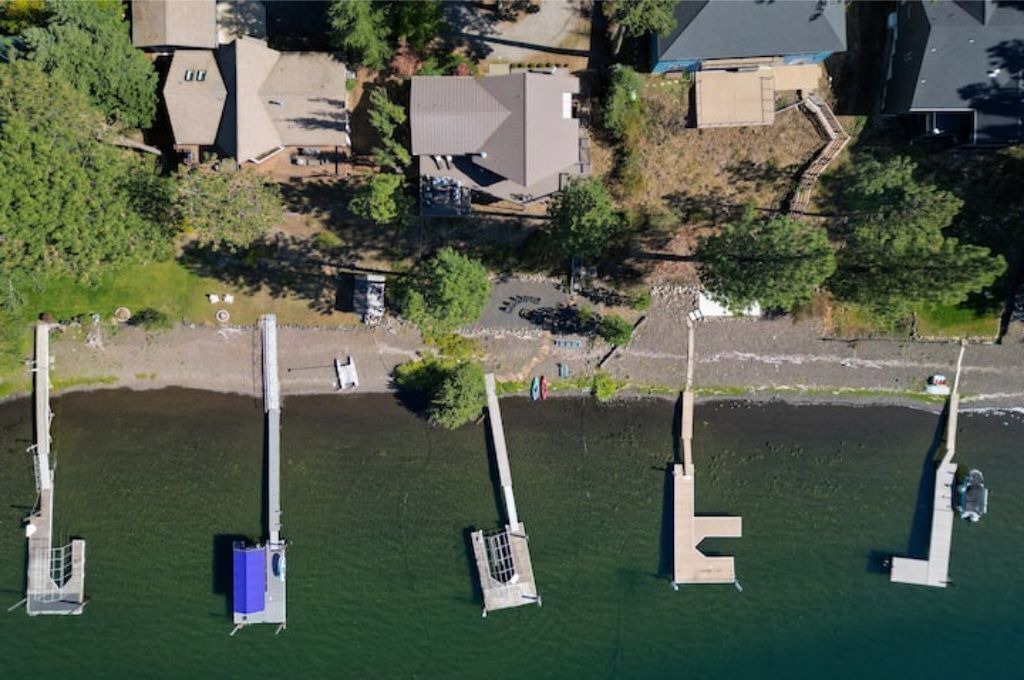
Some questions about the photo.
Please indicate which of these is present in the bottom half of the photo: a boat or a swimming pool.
boat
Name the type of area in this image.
residential area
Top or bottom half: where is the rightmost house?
top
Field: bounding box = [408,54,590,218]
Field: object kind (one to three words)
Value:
house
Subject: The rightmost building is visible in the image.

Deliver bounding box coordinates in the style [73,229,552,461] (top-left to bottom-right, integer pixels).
[883,0,1024,150]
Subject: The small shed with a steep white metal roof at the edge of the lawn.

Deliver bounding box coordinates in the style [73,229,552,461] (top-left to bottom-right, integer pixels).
[353,277,388,312]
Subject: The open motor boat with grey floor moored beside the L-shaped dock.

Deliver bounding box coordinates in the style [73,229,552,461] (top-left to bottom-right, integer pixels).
[955,468,989,525]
